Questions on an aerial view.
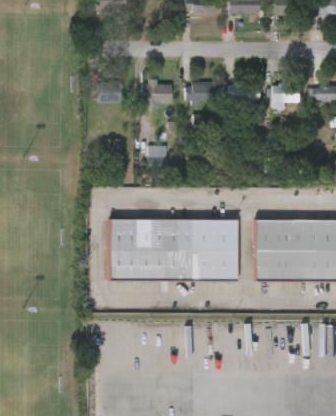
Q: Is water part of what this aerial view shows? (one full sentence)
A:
No, there is no water in the image.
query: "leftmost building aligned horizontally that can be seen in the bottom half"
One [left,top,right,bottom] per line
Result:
[106,220,239,282]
